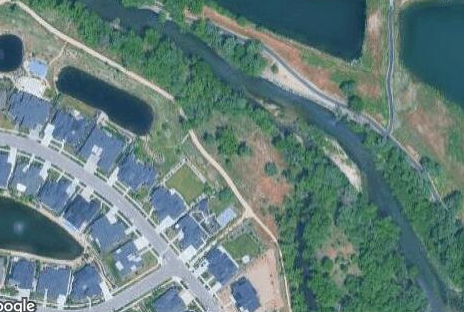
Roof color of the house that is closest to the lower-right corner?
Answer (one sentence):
From above, the roof of the house that is closest to the lower-right corner looks blue.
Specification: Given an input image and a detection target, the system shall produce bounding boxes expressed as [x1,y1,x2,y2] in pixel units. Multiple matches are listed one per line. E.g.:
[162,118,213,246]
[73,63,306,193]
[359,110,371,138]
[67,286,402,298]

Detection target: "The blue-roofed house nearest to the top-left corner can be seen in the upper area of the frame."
[11,90,55,130]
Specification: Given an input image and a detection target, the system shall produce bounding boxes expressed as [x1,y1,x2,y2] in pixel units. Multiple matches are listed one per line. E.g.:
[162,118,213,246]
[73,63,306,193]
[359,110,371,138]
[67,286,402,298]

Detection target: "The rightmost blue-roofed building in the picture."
[228,278,264,312]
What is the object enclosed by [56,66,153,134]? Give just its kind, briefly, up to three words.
pond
